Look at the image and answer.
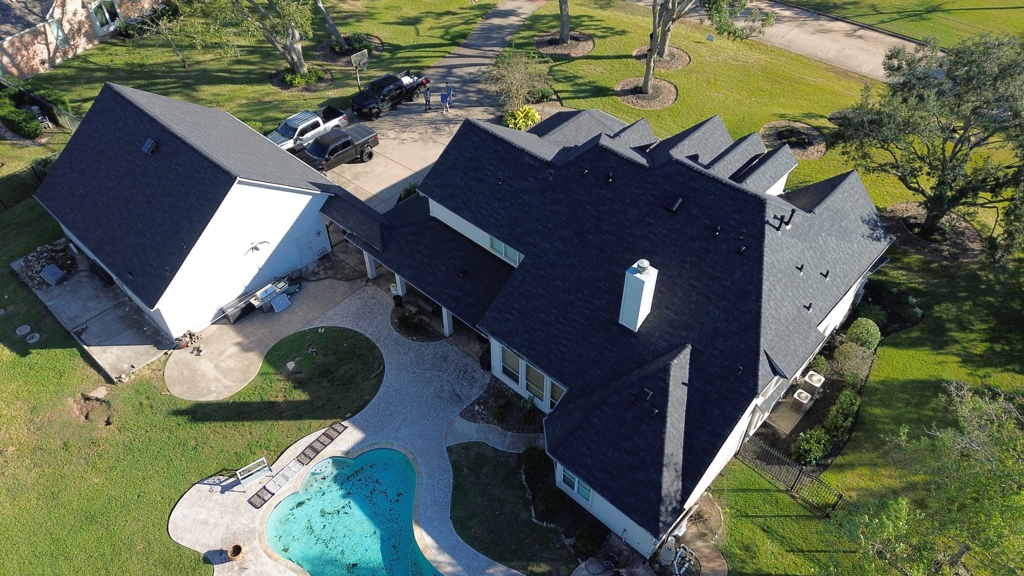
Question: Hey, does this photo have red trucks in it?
No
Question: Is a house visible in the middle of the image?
Yes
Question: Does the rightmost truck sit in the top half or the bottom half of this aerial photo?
top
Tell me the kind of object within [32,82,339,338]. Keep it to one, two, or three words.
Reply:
building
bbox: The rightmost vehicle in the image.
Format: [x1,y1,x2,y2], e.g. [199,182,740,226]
[346,71,432,122]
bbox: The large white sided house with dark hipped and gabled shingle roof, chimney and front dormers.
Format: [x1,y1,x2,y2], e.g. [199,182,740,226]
[343,109,896,560]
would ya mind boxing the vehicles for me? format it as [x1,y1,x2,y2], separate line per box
[346,71,432,122]
[292,122,387,180]
[263,103,358,157]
